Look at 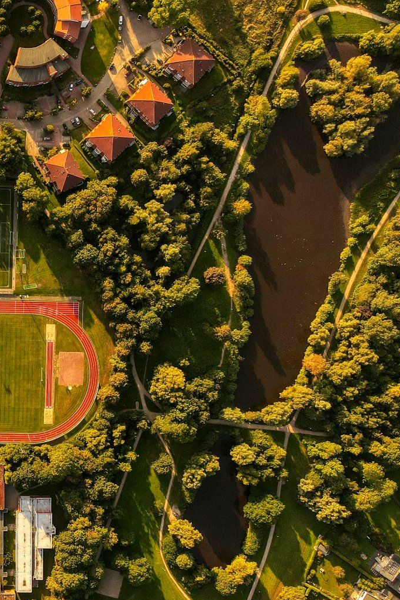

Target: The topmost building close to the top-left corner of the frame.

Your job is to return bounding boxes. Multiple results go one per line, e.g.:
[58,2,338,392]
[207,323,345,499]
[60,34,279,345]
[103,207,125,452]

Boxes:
[52,0,90,46]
